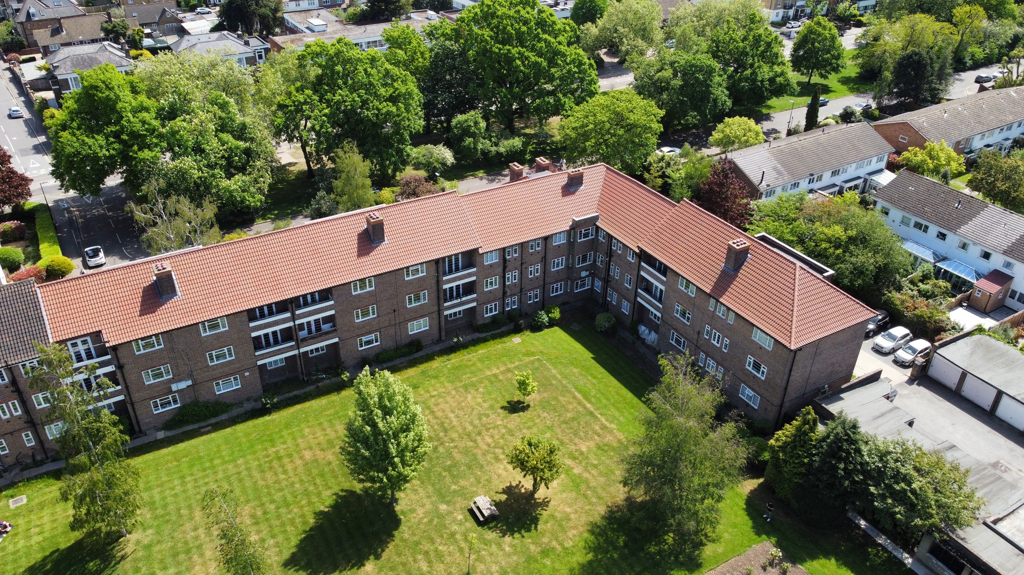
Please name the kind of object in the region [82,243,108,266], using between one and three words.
car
